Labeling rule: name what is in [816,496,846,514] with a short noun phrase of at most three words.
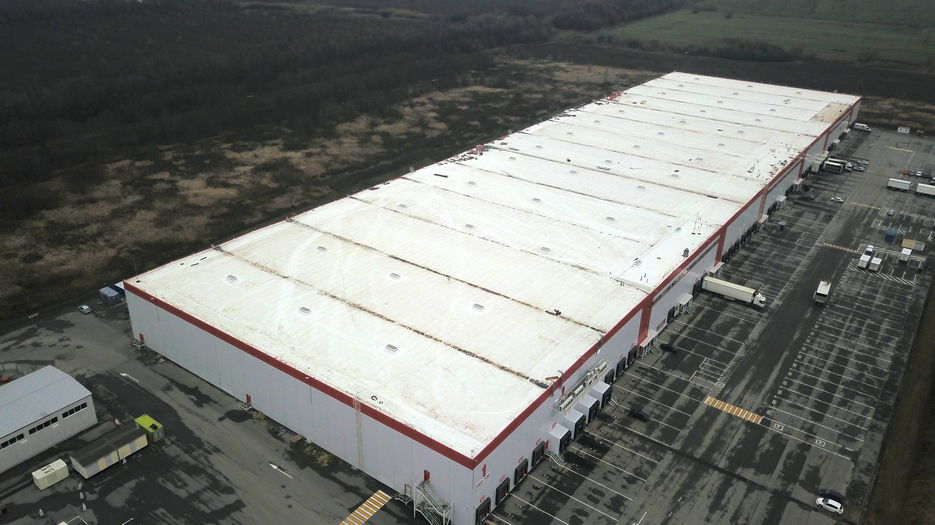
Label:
car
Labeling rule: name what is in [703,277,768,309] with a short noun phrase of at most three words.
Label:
truck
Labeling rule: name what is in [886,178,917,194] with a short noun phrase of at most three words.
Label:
vehicle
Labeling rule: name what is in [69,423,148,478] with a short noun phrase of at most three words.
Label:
building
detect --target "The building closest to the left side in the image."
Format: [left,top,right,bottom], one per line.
[0,364,99,473]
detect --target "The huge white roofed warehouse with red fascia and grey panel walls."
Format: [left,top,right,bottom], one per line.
[121,72,864,525]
